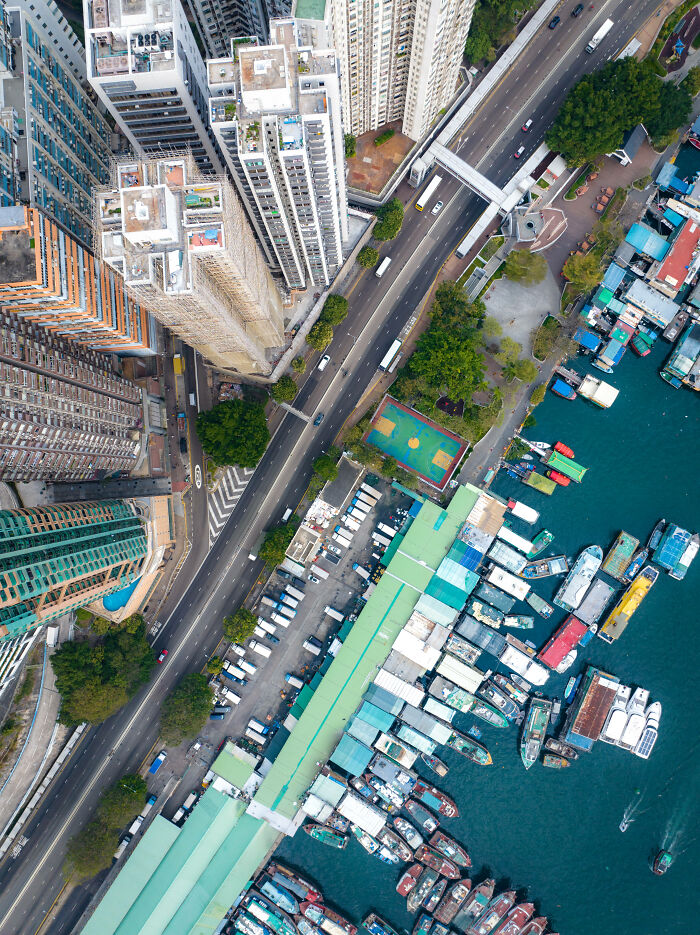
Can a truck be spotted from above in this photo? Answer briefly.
Yes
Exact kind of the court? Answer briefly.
basketball court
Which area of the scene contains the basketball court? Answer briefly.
center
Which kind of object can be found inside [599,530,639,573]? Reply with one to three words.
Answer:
ship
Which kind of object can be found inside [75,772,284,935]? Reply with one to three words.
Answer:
building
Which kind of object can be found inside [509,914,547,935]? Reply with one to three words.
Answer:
boat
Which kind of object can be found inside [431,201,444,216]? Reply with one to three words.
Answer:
vehicle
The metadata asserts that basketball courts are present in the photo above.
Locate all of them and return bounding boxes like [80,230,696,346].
[358,393,472,493]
